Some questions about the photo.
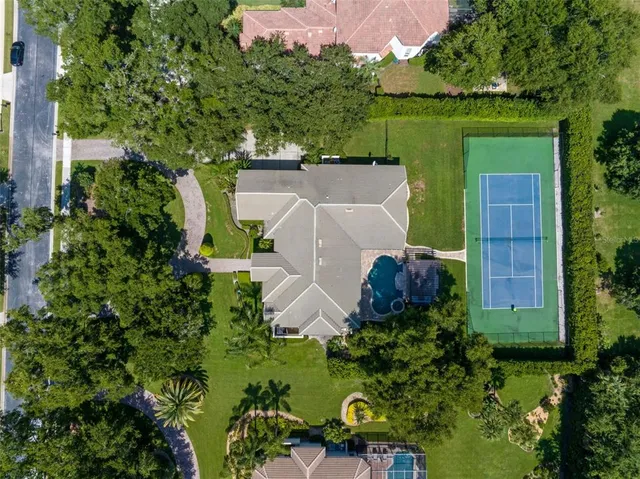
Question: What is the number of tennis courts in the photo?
1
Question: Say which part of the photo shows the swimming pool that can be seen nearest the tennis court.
center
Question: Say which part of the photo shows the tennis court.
right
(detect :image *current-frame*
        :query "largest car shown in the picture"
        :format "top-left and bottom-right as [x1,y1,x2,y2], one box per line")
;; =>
[11,41,27,66]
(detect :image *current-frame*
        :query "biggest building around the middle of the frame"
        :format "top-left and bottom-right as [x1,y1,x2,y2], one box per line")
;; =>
[236,164,409,338]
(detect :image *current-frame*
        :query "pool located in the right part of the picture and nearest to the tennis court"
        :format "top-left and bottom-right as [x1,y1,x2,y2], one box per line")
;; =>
[366,254,405,316]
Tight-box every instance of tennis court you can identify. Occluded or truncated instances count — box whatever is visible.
[464,136,558,344]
